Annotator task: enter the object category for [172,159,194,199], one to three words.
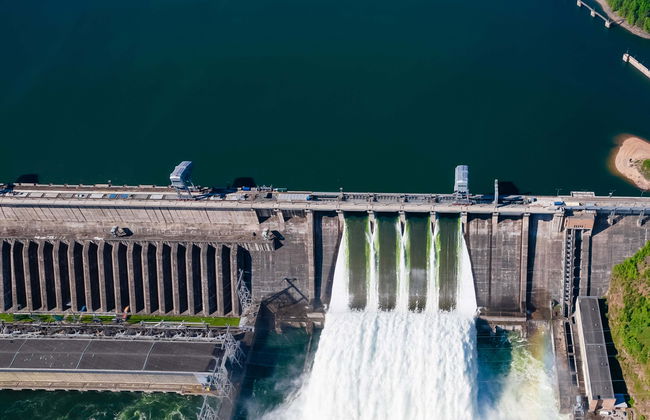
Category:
container crane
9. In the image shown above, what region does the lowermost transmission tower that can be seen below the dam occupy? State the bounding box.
[192,390,220,420]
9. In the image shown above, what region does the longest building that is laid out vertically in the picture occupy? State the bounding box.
[573,296,617,410]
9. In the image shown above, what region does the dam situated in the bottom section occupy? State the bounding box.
[0,182,650,339]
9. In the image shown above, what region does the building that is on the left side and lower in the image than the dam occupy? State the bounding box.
[0,338,225,396]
